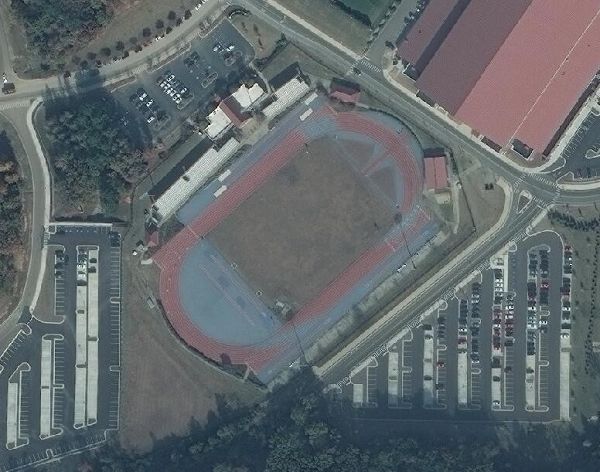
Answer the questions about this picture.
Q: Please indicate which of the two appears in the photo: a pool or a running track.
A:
running track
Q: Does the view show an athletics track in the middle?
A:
Yes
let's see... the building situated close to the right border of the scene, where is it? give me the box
[395,0,600,160]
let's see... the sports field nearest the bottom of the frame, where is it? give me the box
[205,136,396,324]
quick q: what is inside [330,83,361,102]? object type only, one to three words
building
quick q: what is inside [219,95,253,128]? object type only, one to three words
building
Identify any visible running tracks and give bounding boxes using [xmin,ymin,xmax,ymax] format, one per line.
[152,93,442,381]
